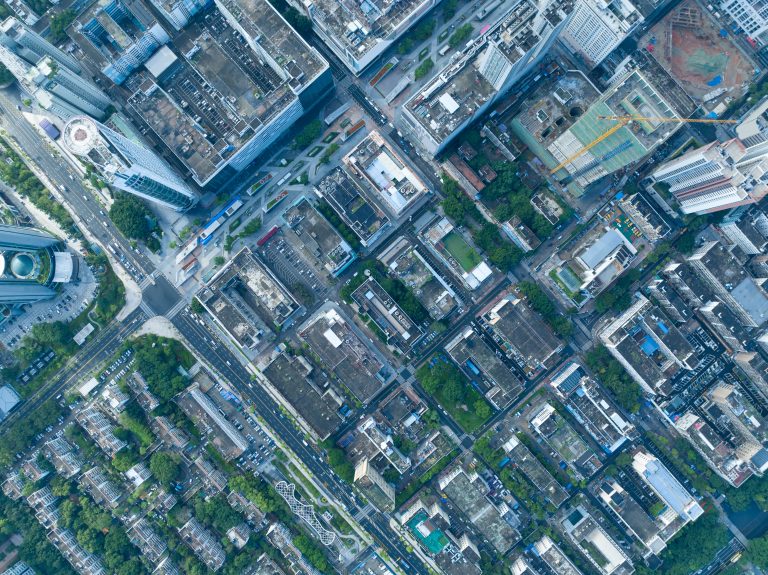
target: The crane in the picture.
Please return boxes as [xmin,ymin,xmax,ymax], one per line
[550,115,739,174]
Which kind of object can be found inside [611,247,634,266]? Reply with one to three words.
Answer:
solar panel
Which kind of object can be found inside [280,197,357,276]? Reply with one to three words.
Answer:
building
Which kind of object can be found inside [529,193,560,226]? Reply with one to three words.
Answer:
house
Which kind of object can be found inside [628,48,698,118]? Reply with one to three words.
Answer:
shed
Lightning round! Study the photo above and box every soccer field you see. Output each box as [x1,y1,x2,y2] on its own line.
[442,229,483,272]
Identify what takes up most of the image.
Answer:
buildings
